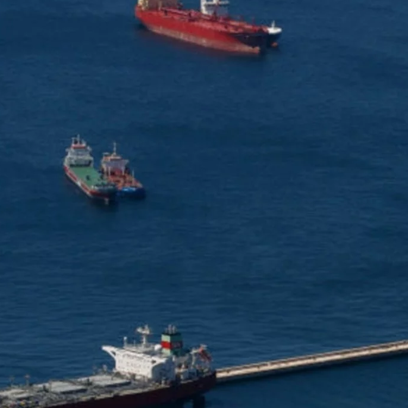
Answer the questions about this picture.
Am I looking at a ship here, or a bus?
ship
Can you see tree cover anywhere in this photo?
No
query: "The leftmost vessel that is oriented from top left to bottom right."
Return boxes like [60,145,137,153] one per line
[68,134,117,203]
